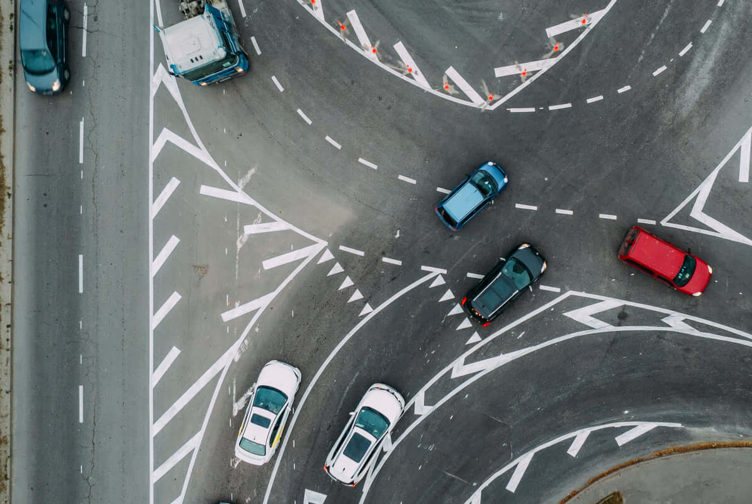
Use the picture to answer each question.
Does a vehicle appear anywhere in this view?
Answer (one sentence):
Yes, this view includes a vehicle.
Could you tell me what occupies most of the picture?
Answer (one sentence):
Most of the picture is covered by paved ground.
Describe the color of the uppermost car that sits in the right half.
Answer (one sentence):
The color of the uppermost car that sits in the right half is blue.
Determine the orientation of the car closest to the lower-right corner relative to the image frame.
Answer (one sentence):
Seen from above, the car closest to the lower-right corner lies at an angle.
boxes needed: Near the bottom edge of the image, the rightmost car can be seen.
[324,383,404,486]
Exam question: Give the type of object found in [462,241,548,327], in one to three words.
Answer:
car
